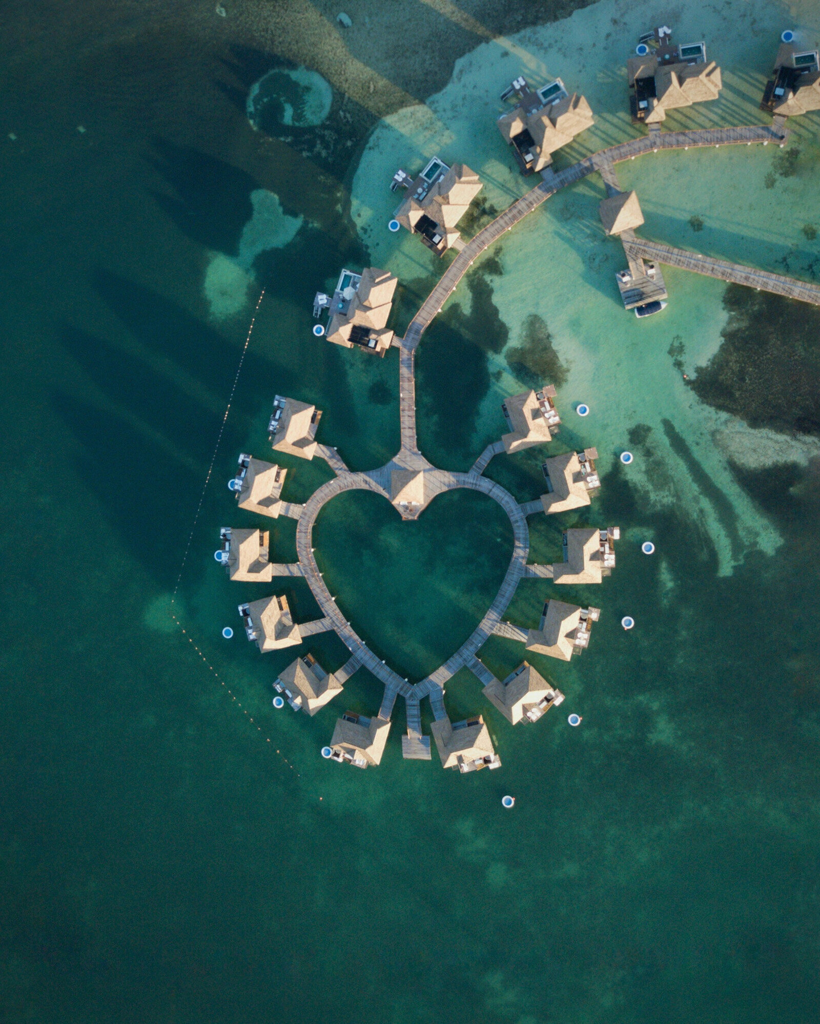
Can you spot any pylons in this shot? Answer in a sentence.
No, this view has no pylon in it.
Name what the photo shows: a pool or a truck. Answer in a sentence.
The image shows a pool.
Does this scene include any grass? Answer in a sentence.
No, grass can't be seen anywhere here.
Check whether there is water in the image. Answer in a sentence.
Yes, there is water in the image.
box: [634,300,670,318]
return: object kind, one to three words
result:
boat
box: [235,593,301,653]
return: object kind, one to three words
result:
house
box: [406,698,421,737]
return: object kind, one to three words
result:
pier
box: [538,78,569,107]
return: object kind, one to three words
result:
swimming pool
